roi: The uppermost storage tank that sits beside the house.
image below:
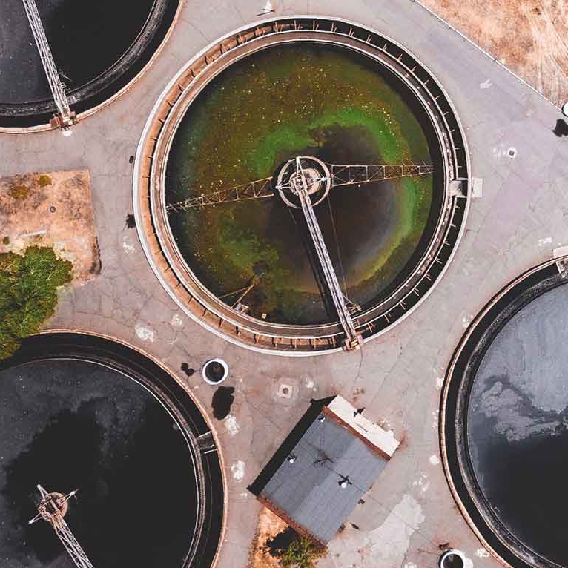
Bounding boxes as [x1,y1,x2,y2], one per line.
[133,14,472,356]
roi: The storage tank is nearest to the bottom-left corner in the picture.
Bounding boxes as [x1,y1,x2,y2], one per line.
[0,329,228,568]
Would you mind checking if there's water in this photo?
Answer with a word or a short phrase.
Yes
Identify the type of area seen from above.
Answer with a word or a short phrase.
industrial area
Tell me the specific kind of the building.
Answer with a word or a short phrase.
residential house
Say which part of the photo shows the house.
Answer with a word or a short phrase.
bottom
